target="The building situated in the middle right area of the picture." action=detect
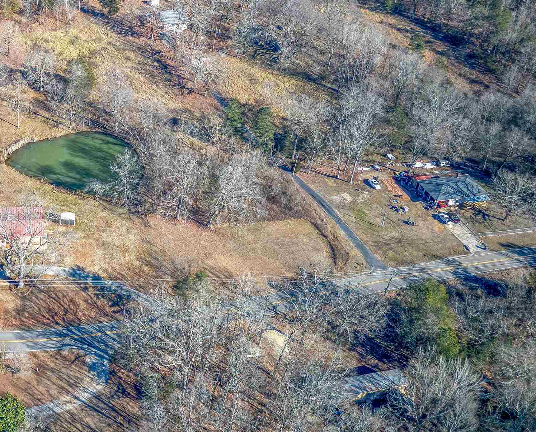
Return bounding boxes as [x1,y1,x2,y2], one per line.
[412,174,494,210]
